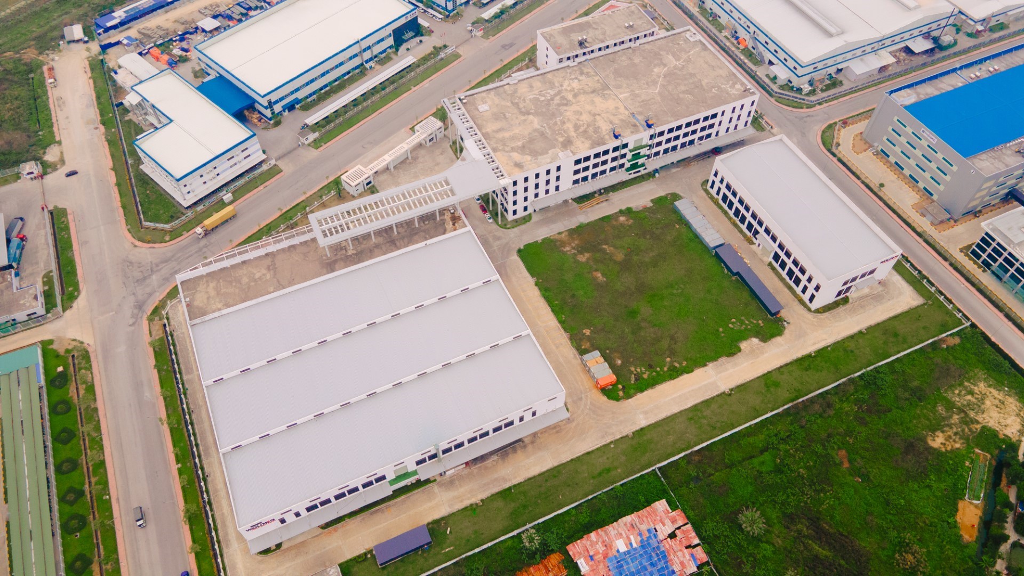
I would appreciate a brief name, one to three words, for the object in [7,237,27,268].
vehicle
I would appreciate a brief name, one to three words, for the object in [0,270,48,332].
building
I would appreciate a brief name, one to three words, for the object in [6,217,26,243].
vehicle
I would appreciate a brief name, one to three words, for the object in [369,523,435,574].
shed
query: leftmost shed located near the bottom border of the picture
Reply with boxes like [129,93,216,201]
[6,362,56,576]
